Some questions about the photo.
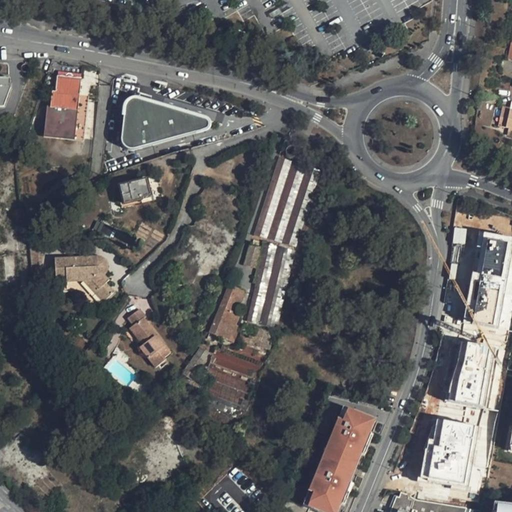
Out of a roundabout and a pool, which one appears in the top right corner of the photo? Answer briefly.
roundabout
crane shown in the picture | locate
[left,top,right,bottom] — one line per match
[419,210,494,368]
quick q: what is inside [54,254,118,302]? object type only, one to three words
house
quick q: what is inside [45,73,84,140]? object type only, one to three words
house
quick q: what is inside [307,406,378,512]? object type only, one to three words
building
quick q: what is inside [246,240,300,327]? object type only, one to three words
building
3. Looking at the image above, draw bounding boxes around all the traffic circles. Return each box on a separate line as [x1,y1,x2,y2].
[362,95,441,174]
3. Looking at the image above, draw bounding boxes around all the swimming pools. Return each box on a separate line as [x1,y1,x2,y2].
[106,348,142,390]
